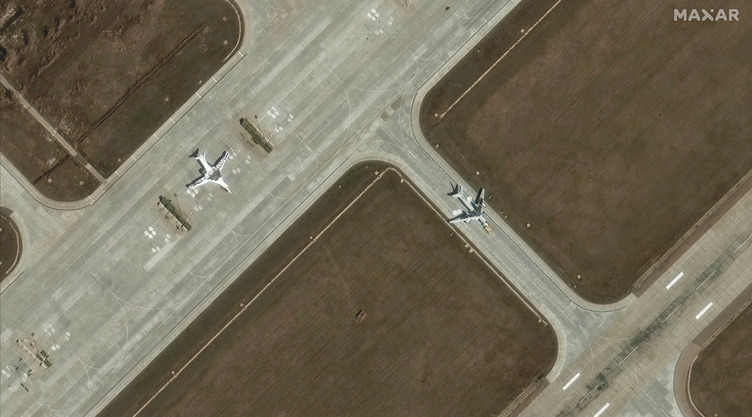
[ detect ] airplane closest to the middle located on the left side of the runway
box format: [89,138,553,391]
[449,188,489,225]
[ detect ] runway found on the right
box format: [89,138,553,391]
[514,187,752,417]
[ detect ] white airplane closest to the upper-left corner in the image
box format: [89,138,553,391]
[189,152,233,194]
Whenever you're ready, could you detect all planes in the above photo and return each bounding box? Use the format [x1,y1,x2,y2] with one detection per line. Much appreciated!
[449,188,489,225]
[189,152,233,194]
